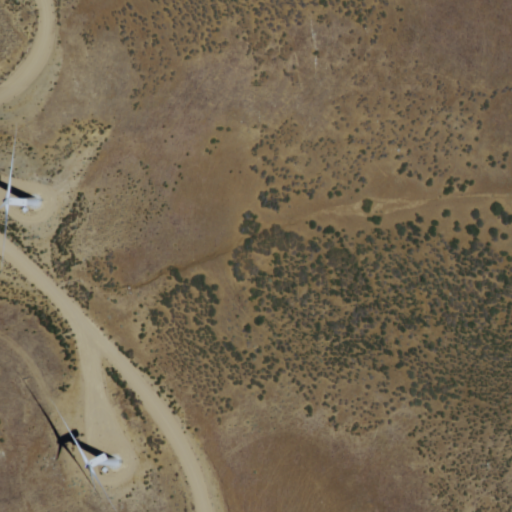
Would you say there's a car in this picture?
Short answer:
No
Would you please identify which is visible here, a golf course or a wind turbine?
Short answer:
wind turbine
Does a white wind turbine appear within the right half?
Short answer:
No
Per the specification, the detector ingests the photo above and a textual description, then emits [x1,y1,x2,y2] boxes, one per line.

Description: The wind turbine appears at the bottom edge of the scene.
[54,408,124,506]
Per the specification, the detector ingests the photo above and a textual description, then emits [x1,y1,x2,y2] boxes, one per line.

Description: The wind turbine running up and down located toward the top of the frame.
[0,134,46,245]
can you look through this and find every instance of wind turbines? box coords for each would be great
[54,408,124,506]
[0,134,46,245]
